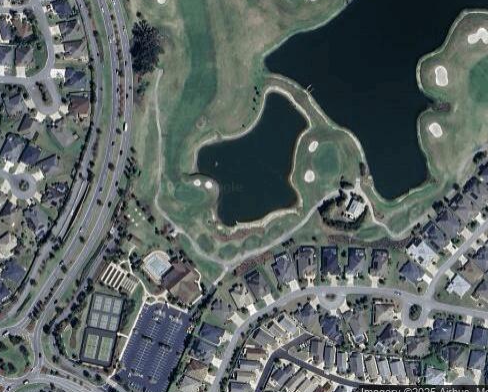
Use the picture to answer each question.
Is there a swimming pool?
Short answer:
Yes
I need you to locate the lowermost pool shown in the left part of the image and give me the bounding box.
[142,249,176,283]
